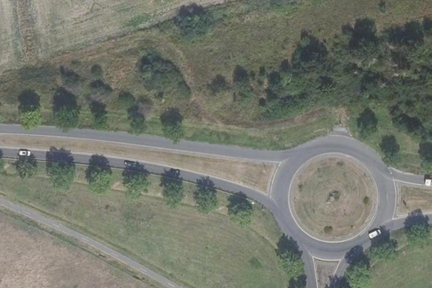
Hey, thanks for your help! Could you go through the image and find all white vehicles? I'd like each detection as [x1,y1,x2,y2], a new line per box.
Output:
[18,150,30,156]
[368,228,382,238]
[424,177,432,185]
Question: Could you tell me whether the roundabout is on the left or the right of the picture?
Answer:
right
